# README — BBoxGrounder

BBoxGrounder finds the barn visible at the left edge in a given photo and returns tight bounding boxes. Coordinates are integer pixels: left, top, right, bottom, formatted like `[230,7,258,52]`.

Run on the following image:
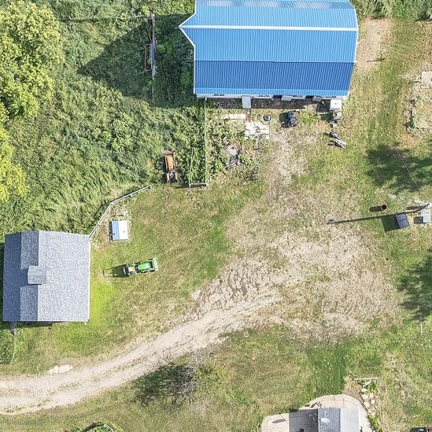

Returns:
[2,232,90,323]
